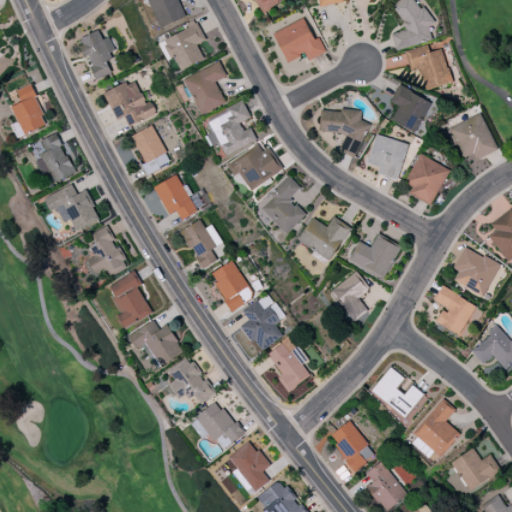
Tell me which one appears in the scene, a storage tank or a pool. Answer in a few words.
pool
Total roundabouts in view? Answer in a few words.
zero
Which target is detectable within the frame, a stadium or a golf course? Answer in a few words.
golf course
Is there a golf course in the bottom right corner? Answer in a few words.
No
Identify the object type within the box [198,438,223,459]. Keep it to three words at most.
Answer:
swimming pool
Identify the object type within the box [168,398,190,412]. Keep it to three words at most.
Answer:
swimming pool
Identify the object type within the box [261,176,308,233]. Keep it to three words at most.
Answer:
house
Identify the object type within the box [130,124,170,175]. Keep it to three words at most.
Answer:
house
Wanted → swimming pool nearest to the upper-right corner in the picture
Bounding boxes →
[354,98,376,121]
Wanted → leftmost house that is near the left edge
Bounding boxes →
[10,84,48,138]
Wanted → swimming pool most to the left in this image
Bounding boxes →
[46,214,63,230]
